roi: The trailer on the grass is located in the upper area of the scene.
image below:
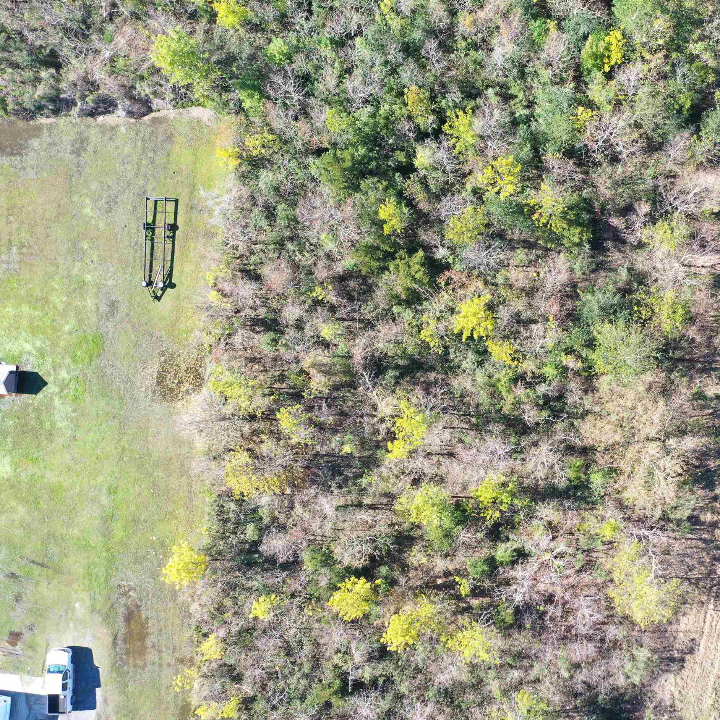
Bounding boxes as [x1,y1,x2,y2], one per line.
[141,195,173,304]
